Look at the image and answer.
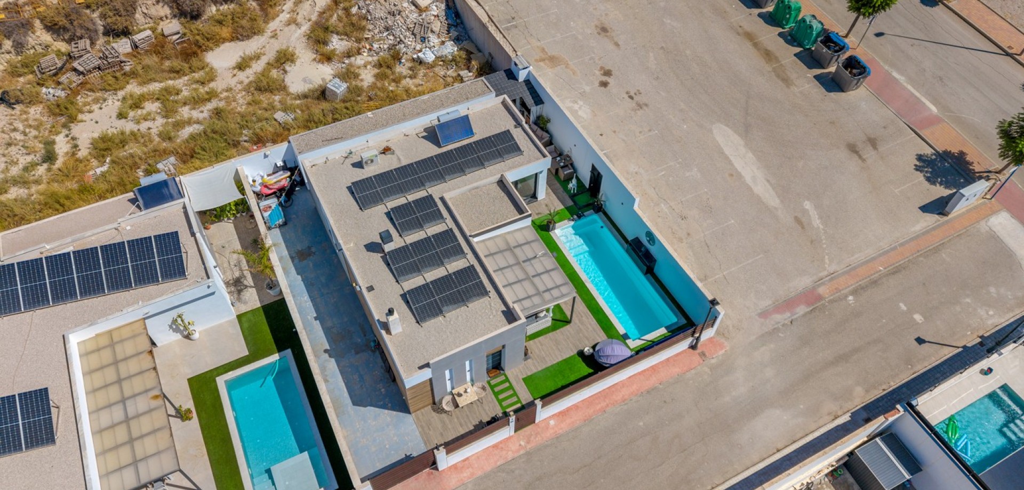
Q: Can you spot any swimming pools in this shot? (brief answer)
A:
Yes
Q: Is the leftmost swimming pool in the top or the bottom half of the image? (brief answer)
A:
bottom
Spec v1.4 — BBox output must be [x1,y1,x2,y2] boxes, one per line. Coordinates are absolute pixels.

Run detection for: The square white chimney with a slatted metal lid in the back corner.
[509,53,531,80]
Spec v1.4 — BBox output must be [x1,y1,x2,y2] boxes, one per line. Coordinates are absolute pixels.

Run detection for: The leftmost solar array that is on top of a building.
[0,386,64,459]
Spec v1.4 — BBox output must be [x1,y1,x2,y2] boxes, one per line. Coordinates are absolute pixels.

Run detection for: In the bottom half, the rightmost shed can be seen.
[845,432,924,490]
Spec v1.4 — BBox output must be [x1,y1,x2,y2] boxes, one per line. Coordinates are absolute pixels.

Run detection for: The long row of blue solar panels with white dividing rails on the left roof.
[0,230,189,318]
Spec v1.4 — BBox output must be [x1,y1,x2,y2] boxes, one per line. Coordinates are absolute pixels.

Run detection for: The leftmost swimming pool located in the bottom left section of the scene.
[214,349,341,490]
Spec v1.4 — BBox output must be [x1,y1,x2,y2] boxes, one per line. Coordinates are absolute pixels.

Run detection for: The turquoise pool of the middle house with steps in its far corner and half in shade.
[547,209,687,349]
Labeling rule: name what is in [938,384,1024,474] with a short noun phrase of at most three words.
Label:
swimming pool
